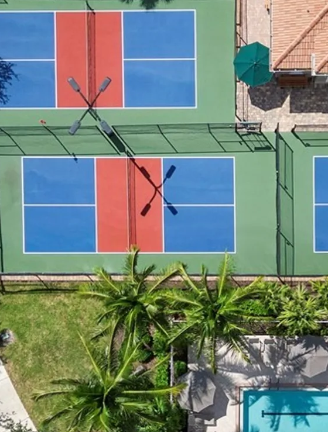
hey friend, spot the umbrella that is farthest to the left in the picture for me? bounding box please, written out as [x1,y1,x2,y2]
[176,368,218,410]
